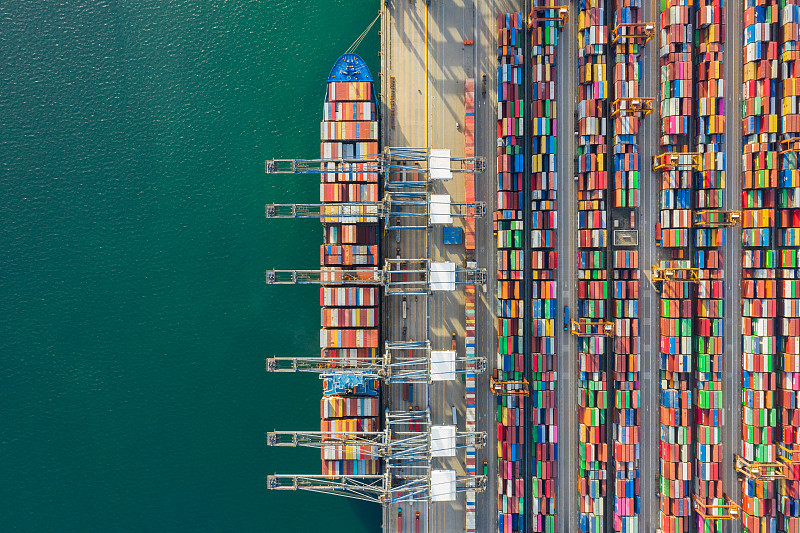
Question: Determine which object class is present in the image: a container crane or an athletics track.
container crane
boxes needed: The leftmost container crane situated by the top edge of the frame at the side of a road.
[523,5,570,34]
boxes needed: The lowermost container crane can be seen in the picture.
[689,492,743,519]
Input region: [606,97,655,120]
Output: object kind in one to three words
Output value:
container crane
